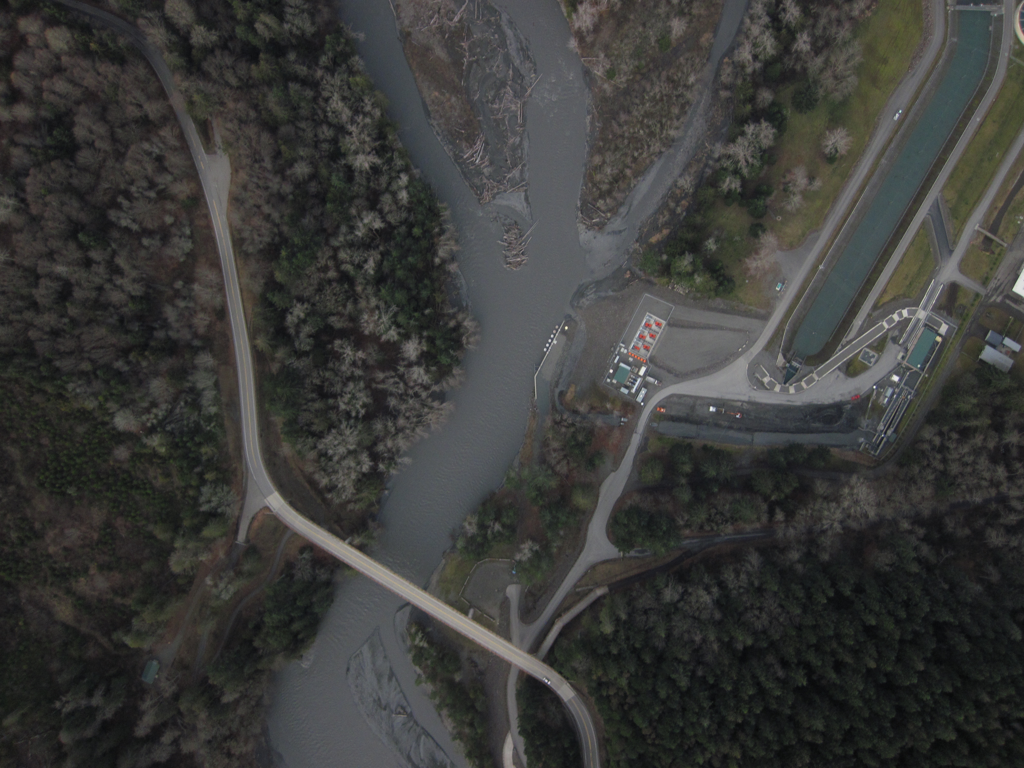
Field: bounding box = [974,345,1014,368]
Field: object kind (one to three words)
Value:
shed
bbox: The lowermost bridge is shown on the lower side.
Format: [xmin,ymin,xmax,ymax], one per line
[265,491,577,704]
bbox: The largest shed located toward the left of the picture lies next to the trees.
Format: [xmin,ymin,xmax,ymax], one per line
[142,659,163,684]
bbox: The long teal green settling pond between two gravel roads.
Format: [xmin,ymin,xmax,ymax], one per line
[776,0,992,366]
